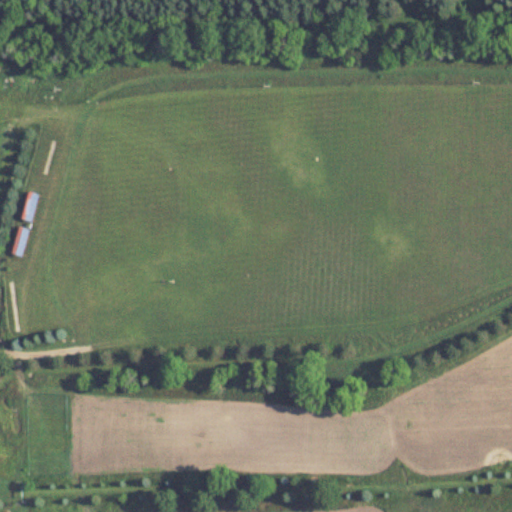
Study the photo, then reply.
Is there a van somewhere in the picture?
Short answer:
No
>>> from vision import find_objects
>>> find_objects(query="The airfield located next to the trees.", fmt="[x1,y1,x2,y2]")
[7,84,512,346]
